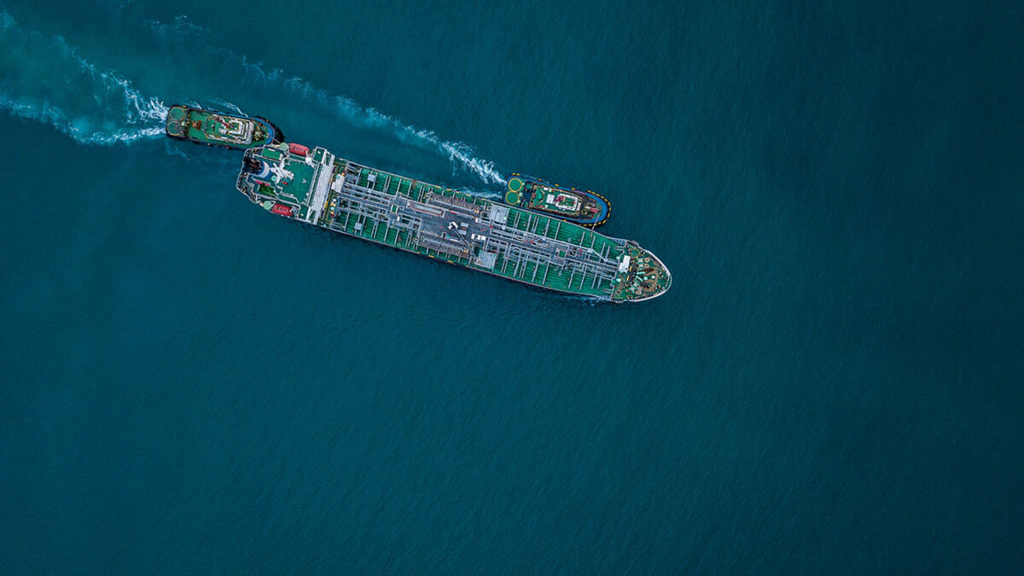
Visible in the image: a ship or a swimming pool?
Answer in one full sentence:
The one in the frame is a ship.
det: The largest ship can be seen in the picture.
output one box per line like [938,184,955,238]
[235,143,671,302]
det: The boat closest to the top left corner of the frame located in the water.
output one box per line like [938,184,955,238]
[165,105,284,153]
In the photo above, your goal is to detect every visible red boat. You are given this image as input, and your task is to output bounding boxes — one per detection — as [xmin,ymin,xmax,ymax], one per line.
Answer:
[290,145,310,156]
[274,206,294,216]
